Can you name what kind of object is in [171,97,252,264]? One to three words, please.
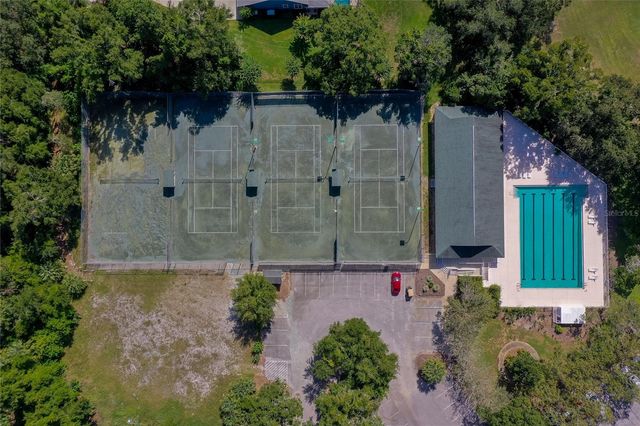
tennis court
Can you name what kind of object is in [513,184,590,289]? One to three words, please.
swimming pool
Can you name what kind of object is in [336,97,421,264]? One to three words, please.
tennis court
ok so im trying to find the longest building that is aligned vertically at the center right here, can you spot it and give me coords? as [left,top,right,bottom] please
[436,106,504,257]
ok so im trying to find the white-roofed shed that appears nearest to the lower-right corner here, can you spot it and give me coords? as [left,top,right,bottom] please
[556,305,585,324]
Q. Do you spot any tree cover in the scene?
Yes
